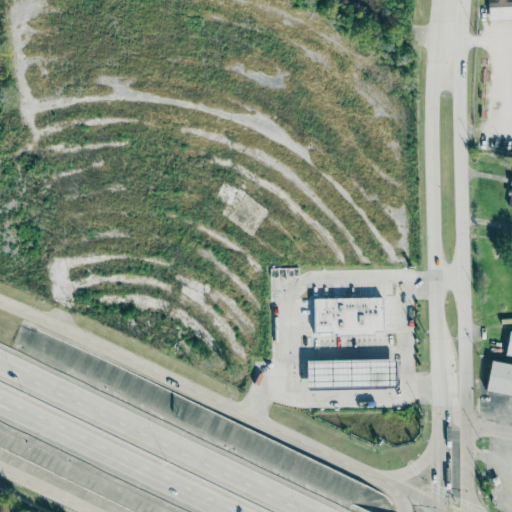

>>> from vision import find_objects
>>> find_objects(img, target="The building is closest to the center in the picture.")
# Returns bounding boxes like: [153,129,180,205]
[314,298,384,336]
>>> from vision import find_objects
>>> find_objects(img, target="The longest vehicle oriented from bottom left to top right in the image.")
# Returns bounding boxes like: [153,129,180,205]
[254,363,272,386]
